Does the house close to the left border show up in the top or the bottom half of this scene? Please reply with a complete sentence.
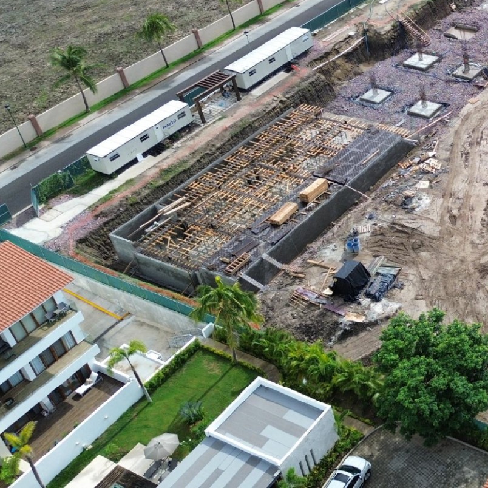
You can find the house close to the left border in the bottom half.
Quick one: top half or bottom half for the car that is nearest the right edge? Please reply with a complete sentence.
The car that is nearest the right edge sits in the bottom half of the picture.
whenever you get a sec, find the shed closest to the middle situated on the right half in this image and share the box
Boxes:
[324,263,373,305]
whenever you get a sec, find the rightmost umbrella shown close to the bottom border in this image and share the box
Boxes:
[142,433,183,466]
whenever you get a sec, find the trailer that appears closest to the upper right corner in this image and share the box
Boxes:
[224,27,311,90]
